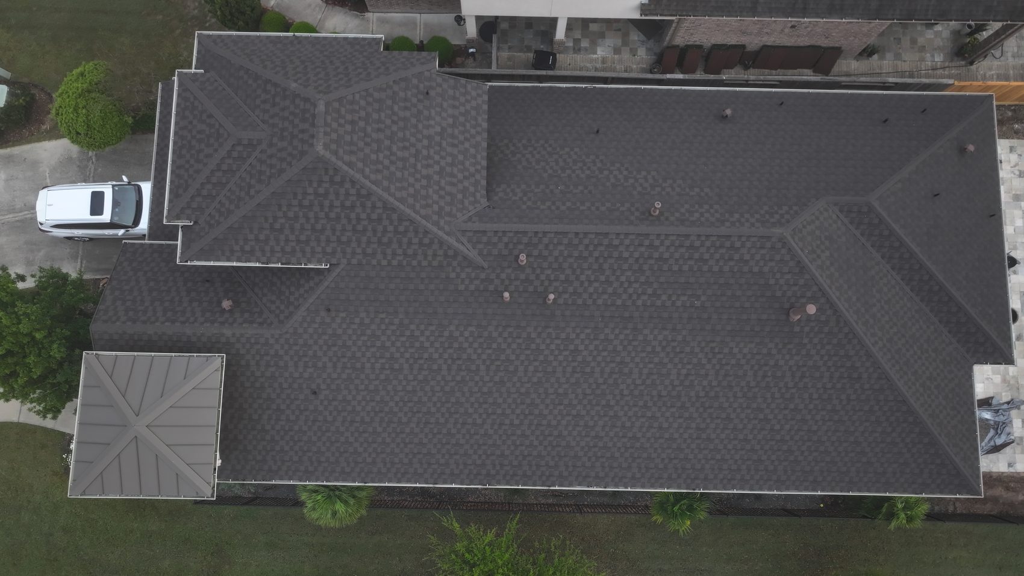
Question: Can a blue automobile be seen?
No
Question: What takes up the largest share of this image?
buildings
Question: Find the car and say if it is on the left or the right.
left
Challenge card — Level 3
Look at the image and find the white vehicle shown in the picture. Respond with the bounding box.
[34,177,149,239]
